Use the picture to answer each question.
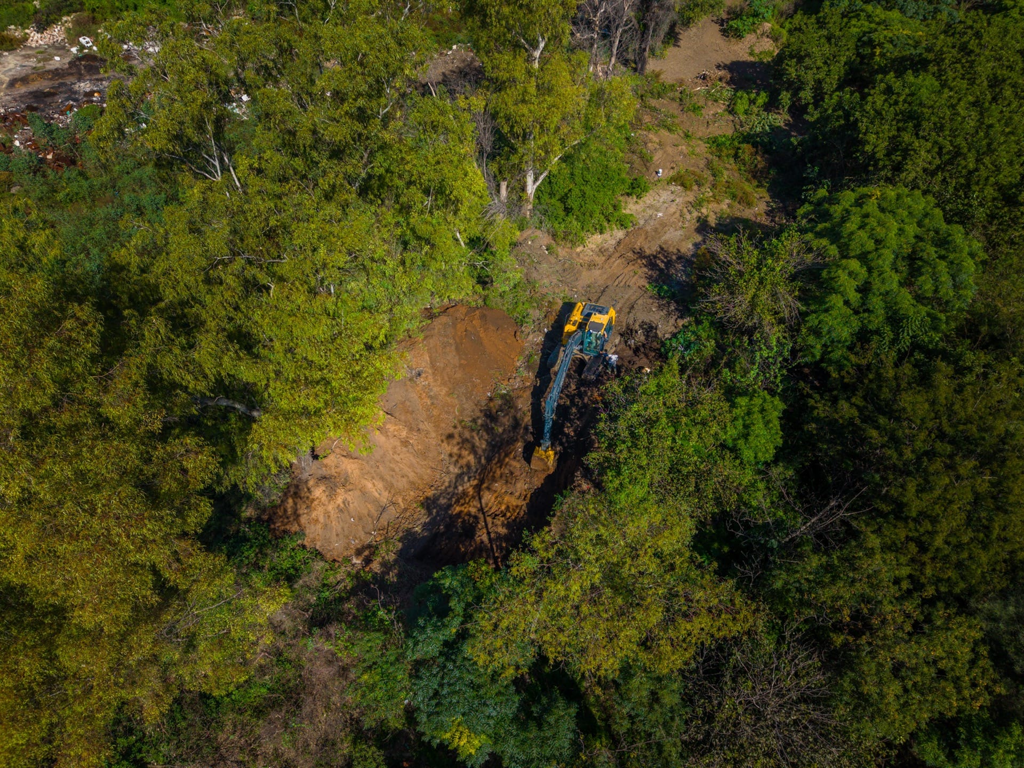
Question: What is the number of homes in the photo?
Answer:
0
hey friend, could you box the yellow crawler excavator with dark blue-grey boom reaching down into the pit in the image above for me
[535,301,613,465]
